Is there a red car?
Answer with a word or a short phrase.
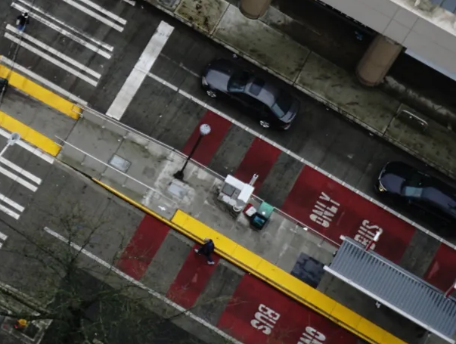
No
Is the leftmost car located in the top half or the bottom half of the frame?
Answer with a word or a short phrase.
top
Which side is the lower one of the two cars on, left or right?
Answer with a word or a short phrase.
right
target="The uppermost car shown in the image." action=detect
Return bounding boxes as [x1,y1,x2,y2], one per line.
[199,57,306,134]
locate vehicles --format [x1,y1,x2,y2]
[371,162,456,240]
[199,57,306,134]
